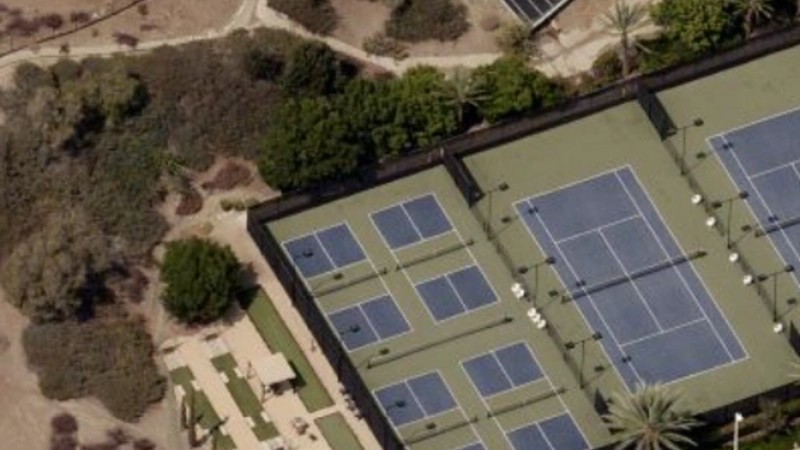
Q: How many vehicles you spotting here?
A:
0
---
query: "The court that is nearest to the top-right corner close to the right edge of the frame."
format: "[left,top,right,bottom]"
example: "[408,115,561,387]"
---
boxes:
[708,109,800,282]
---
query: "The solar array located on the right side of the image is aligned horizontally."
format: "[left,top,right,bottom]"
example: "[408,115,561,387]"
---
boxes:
[494,0,573,34]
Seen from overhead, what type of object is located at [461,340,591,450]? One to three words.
sports court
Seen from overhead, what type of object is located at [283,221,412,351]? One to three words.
sports court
